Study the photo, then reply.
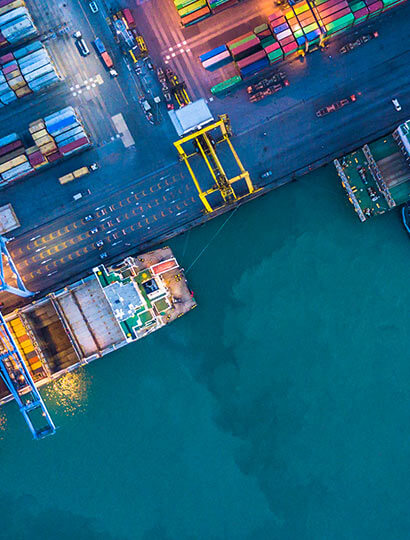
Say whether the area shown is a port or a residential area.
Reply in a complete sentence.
This image shows a port.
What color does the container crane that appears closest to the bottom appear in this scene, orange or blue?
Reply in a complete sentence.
The container crane that appears closest to the bottom is blue.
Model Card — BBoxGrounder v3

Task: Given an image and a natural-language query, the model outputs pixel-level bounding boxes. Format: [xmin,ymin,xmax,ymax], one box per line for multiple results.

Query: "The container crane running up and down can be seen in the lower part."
[0,230,57,441]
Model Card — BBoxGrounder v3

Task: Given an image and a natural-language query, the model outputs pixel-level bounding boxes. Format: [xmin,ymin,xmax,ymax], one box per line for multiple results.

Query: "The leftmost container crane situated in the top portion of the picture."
[167,81,259,215]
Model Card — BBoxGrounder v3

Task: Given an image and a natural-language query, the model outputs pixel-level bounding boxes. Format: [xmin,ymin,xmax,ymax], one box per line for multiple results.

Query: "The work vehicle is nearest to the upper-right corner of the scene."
[340,28,382,54]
